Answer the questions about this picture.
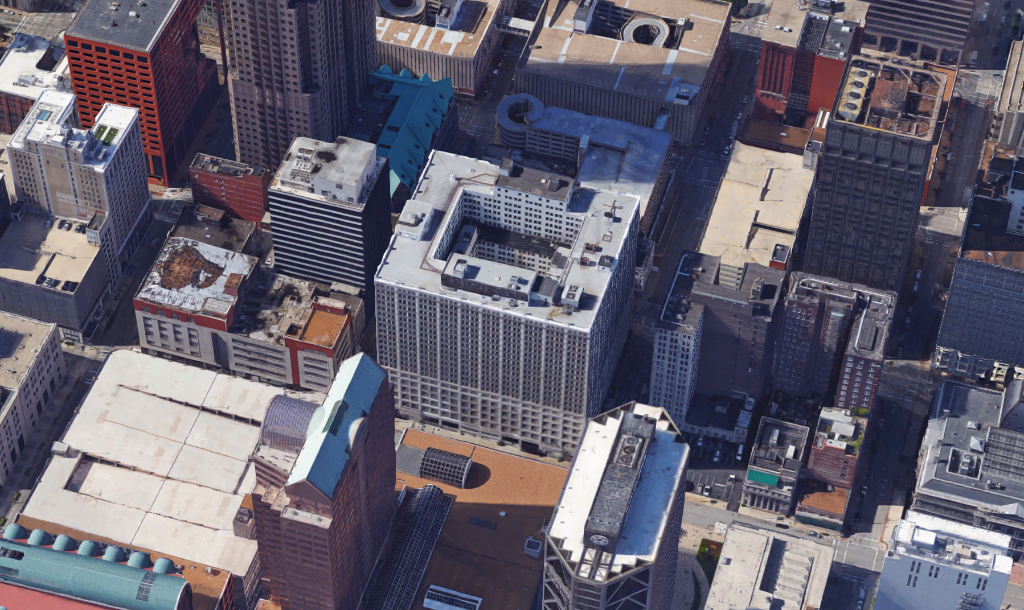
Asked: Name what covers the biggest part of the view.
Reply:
buildings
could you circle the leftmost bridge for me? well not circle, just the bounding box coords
[493,15,533,43]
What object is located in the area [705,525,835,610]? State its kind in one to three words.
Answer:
building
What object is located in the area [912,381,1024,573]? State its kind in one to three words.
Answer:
building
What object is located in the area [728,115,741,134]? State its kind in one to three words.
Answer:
vehicle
